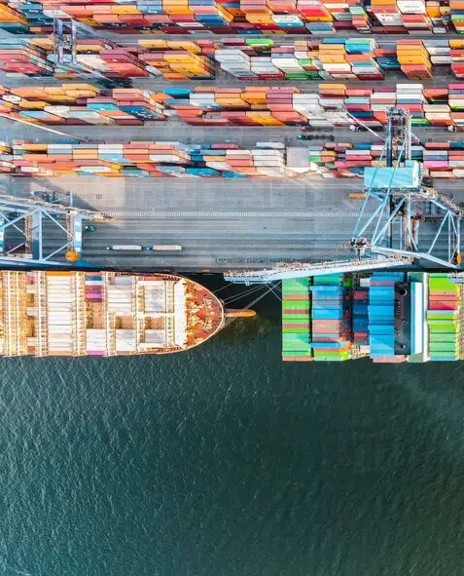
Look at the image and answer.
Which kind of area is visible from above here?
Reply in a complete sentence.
This looks like a port.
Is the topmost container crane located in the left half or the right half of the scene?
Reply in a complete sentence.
The topmost container crane sits on the left side.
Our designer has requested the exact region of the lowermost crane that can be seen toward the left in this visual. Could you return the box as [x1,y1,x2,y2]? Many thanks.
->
[0,193,104,269]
